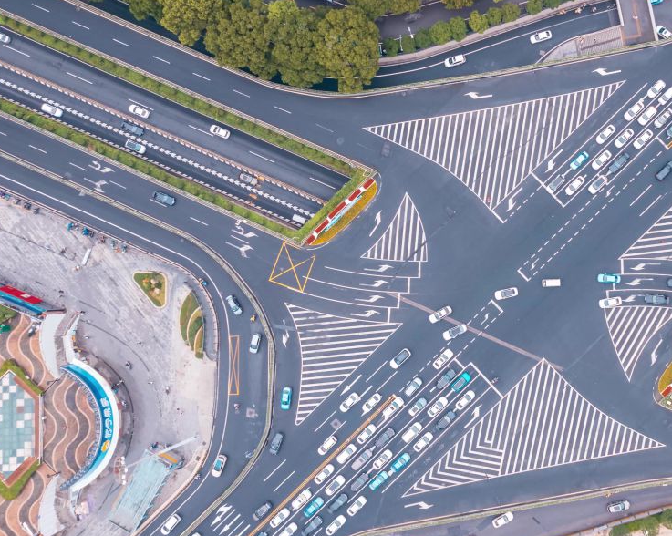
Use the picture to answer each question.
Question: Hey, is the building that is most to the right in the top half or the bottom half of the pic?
bottom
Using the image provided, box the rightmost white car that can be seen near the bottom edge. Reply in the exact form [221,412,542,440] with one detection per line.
[607,500,631,514]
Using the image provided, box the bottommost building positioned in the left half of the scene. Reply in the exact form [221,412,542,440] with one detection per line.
[58,357,124,494]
